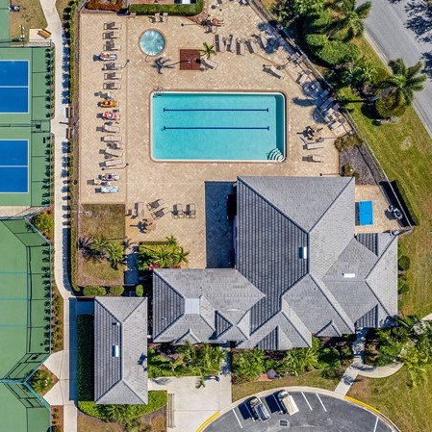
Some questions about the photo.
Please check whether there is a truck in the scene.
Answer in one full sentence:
No, no truck is visible in the scene.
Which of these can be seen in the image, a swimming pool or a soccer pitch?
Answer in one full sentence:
Visible in the photo is a swimming pool.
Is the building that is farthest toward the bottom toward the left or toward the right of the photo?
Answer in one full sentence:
The building that is farthest toward the bottom is on the left side of the image.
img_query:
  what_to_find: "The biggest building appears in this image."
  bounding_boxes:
[152,174,400,351]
